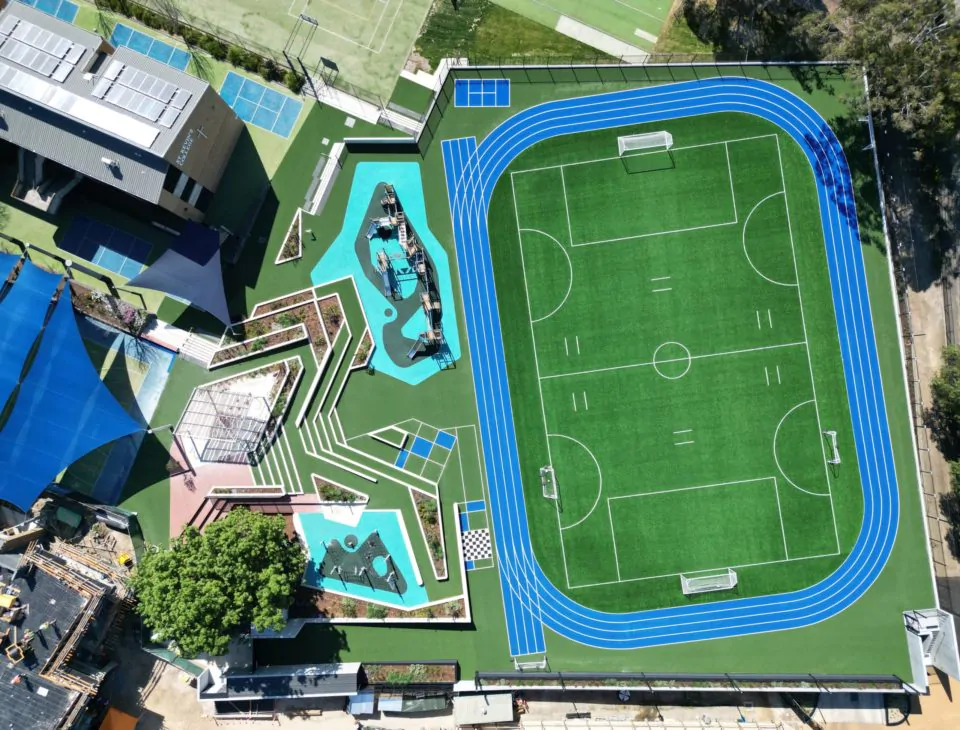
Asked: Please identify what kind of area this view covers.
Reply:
sports ground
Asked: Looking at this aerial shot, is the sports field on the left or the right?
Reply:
right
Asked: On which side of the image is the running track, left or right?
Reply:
right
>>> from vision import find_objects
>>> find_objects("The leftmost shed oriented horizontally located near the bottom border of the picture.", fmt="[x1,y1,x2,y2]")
[197,660,361,701]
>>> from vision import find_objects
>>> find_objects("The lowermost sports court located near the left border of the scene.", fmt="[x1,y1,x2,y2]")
[0,302,179,506]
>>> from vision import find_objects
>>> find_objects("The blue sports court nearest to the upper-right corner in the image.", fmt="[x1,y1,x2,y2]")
[454,79,510,108]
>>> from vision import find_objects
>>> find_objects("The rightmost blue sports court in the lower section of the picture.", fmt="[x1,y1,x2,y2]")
[395,418,487,531]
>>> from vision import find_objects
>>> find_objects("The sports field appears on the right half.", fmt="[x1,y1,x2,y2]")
[487,112,862,615]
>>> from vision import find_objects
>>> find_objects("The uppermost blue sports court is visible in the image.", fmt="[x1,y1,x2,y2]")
[38,0,80,24]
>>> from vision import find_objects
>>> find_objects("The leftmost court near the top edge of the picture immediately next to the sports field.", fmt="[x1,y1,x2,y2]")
[133,0,434,109]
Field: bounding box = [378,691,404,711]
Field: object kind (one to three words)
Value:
shed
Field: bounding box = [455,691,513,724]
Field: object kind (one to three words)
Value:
building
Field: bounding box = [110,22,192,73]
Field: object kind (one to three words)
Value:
sports court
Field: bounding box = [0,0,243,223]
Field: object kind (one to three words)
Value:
building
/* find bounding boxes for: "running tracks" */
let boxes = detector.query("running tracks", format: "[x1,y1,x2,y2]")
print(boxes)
[439,76,897,656]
